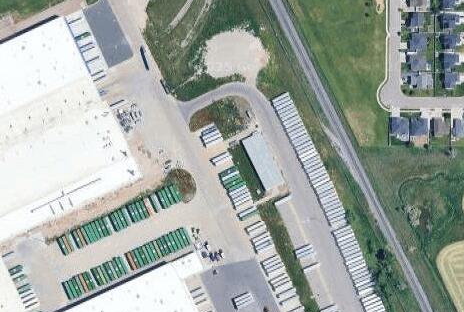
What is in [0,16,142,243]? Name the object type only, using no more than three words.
warehouse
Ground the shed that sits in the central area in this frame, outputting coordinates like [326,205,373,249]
[241,129,284,193]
